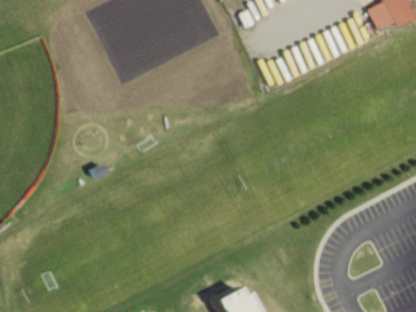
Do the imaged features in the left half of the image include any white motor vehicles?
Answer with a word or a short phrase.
No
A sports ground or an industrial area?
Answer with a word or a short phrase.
sports ground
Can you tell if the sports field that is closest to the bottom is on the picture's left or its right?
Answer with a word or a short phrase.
left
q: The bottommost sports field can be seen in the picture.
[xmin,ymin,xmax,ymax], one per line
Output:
[0,134,268,312]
